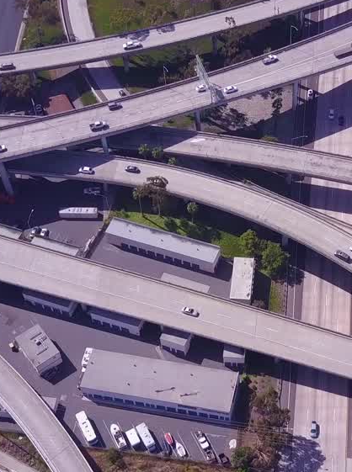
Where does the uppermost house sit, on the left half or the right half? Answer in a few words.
left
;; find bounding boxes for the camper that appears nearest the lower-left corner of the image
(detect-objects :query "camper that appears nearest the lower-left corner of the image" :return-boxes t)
[75,409,98,444]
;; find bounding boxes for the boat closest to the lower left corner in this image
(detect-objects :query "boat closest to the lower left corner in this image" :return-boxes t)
[111,424,126,447]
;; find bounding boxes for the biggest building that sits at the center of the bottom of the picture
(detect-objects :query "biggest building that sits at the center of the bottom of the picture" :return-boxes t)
[81,348,239,416]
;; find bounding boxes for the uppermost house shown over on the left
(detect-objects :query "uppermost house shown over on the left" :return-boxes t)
[45,94,76,117]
